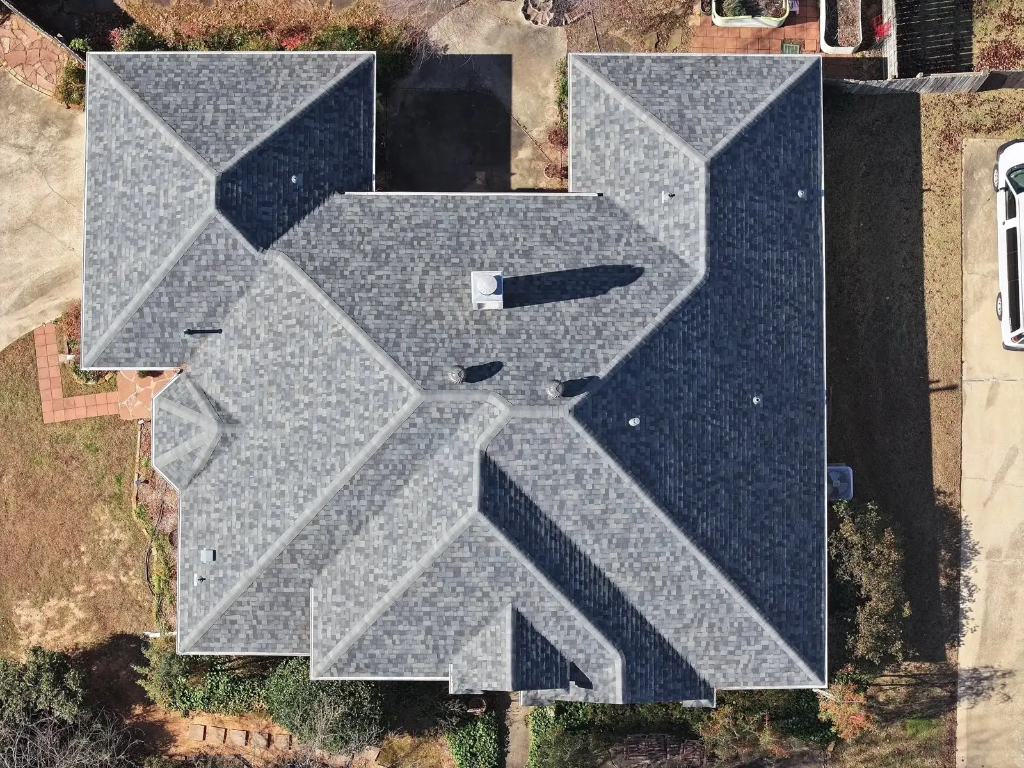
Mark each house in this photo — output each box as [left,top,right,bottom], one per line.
[82,53,827,706]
